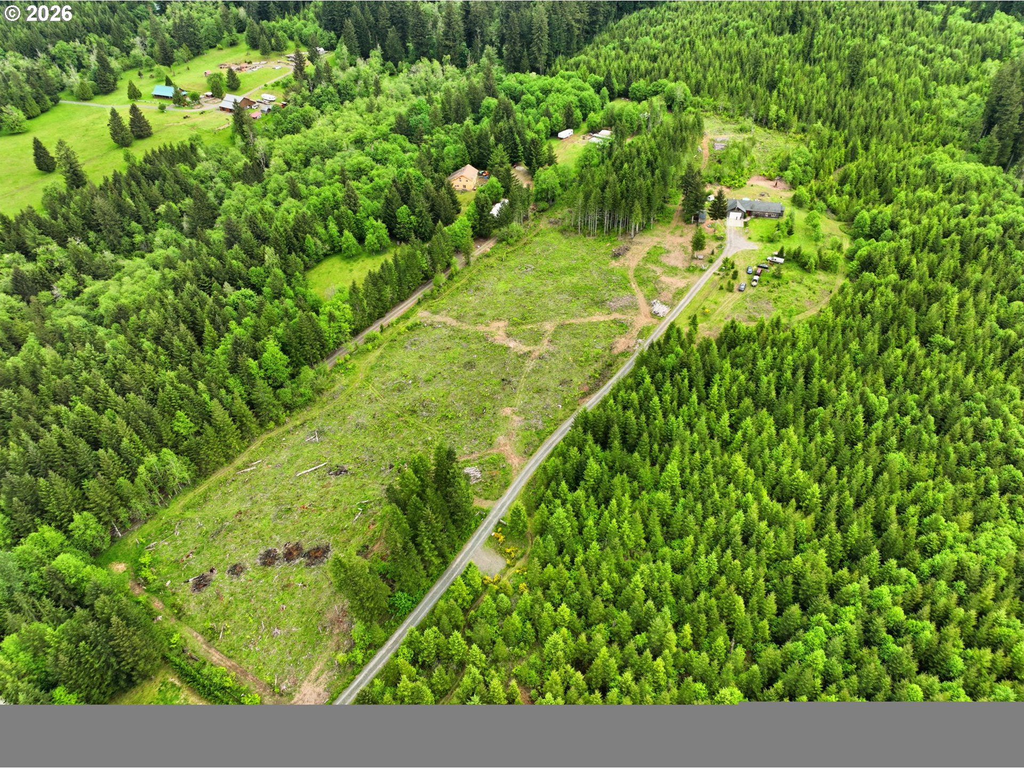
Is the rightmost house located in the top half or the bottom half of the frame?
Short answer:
top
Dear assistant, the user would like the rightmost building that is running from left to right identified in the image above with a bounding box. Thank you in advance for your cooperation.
[726,199,788,223]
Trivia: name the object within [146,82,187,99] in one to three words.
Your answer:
house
